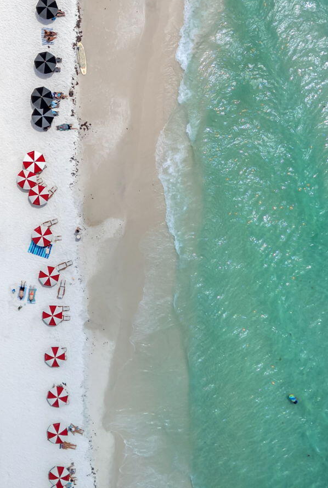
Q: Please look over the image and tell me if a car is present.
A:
No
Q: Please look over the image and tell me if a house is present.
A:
No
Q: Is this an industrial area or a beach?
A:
beach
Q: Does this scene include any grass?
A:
No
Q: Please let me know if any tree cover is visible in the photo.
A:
No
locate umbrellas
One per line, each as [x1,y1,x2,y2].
[43,304,64,324]
[32,225,53,246]
[23,152,45,174]
[46,347,66,367]
[32,109,55,130]
[18,170,37,190]
[49,466,70,487]
[38,266,59,287]
[48,385,69,406]
[31,87,54,110]
[34,53,57,76]
[47,421,68,442]
[29,184,50,206]
[35,0,59,21]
